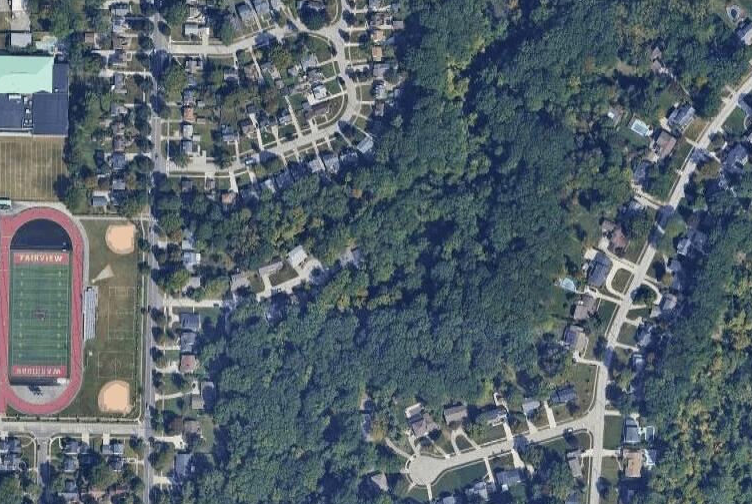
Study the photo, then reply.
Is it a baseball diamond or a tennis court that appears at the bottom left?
baseball diamond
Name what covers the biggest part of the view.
trees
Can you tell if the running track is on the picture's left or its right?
left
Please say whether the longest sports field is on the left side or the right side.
left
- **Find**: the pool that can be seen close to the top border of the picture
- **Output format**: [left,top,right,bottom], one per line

[728,5,740,21]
